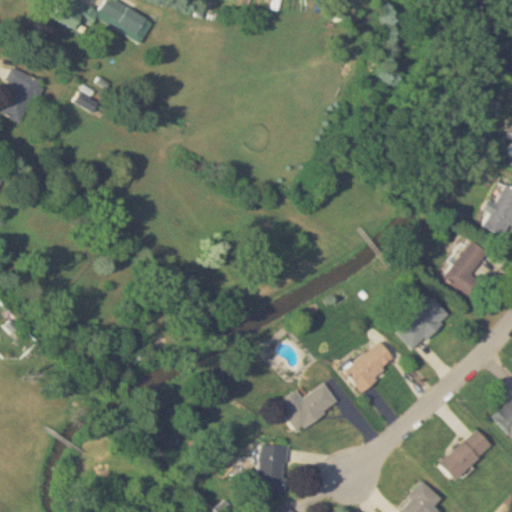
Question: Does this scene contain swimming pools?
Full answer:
Yes, you can see a swimming pool in this photo.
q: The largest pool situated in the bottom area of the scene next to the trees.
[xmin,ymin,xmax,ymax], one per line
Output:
[266,326,317,383]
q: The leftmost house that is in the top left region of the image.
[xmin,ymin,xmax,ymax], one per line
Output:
[1,68,44,124]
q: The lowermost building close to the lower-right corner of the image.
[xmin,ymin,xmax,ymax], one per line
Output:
[402,480,444,512]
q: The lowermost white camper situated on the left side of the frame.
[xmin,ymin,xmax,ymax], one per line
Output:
[77,84,94,98]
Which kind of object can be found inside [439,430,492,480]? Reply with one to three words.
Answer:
house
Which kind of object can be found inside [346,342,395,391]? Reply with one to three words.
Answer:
house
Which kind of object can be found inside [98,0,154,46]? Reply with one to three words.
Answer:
barn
